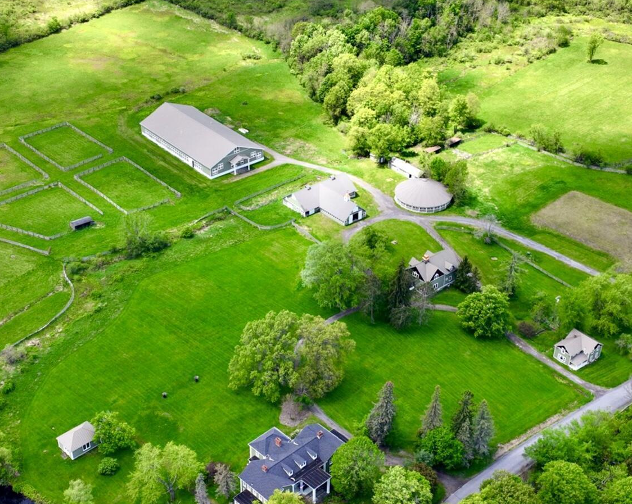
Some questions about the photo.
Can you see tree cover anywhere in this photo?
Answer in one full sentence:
Yes, there is tree cover in the image.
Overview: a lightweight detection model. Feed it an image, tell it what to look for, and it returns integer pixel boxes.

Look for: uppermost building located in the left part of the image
[136,104,265,179]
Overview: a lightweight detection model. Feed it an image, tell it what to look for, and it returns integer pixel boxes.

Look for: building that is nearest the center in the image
[282,173,368,226]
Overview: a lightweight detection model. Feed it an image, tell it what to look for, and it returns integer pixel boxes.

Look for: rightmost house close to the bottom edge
[229,424,344,504]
